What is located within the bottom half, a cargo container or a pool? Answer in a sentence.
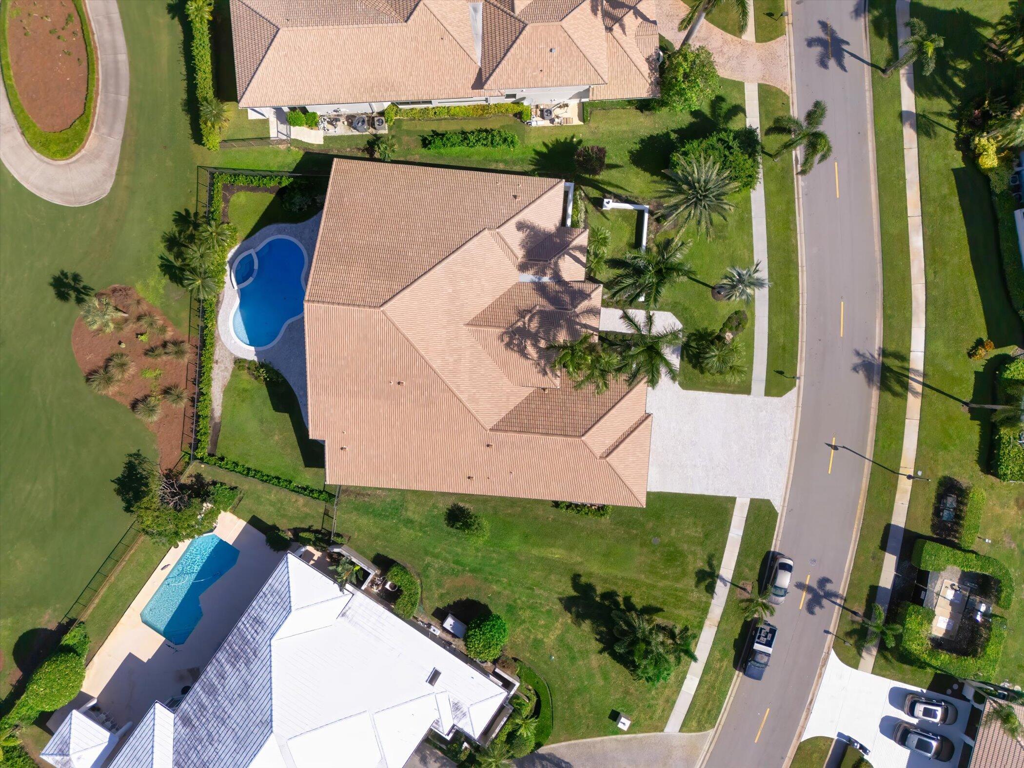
You can see a pool within the bottom half.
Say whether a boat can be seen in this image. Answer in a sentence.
No, there's no boat here.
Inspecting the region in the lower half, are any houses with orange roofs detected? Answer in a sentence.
No, in the lower half there is no house with an orange roof.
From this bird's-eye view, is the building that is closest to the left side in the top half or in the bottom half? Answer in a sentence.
The building that is closest to the left side is in the bottom half of the image.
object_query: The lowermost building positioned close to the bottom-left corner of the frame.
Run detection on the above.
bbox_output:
[39,695,133,768]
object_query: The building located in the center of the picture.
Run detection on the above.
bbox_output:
[302,157,653,509]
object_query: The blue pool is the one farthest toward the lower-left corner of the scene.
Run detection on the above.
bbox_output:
[137,531,244,648]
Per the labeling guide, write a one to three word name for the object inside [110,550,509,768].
house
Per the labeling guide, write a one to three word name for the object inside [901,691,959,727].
car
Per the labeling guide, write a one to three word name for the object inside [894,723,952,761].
car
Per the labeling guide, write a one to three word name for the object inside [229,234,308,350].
swimming pool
